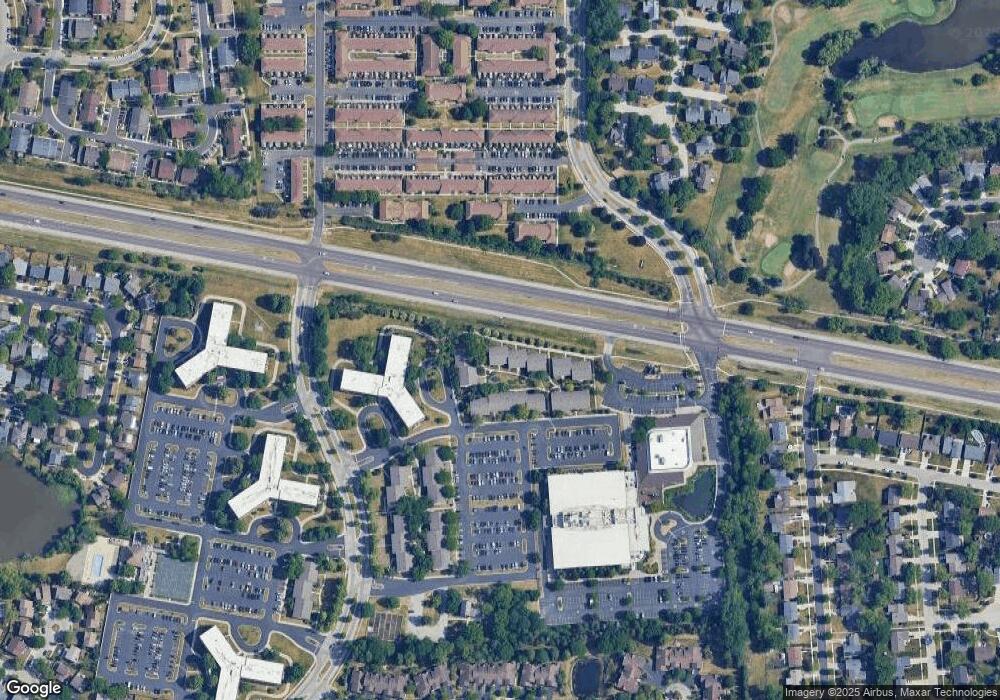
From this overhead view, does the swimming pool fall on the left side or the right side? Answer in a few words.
left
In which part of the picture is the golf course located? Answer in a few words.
top right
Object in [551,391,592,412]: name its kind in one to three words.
building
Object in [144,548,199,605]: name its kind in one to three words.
sports court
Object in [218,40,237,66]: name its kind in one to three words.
house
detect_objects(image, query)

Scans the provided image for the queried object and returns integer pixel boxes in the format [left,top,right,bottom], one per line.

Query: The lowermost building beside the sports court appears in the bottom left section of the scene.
[199,626,284,700]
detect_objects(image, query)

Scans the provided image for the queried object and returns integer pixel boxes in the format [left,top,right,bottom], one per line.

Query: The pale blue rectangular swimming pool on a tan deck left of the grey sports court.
[67,535,119,583]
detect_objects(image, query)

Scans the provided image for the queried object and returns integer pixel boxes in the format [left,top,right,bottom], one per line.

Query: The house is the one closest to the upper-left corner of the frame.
[26,3,44,32]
